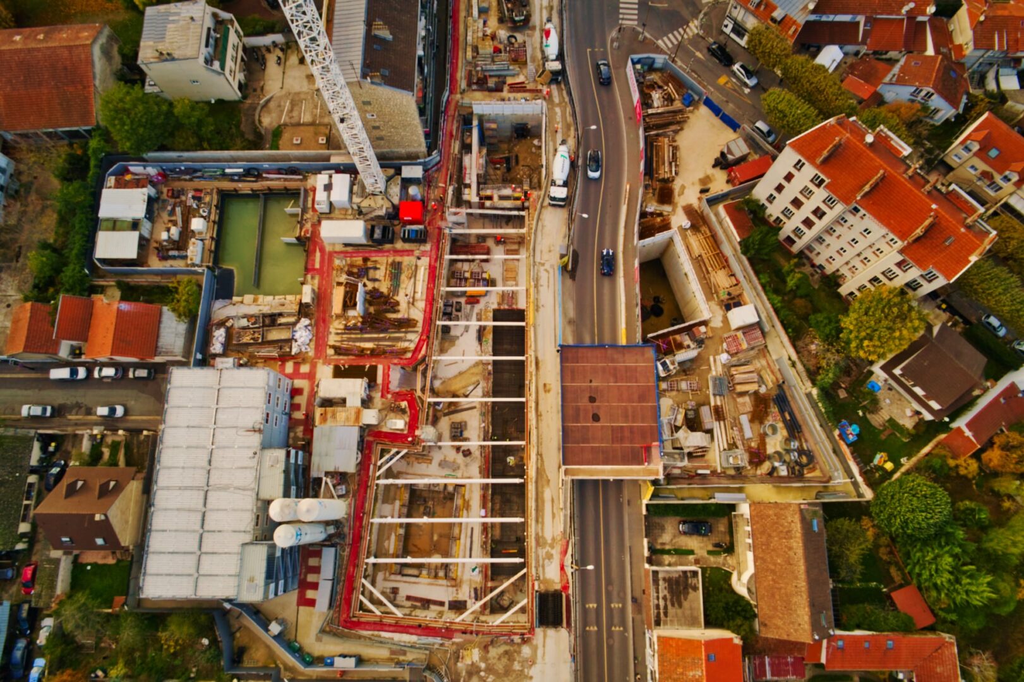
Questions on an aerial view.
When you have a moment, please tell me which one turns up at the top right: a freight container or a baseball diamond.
freight container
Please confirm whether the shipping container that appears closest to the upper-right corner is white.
No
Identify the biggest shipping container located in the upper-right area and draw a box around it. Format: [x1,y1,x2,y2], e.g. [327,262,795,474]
[728,155,771,187]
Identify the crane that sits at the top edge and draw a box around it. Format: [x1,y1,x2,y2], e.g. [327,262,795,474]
[278,0,393,207]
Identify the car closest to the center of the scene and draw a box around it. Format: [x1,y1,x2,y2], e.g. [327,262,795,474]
[602,250,615,272]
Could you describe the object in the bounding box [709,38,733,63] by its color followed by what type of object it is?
black car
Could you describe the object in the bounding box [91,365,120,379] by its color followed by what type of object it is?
white car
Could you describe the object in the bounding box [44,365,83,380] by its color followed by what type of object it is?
white vehicle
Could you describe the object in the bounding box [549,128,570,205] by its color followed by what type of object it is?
white truck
